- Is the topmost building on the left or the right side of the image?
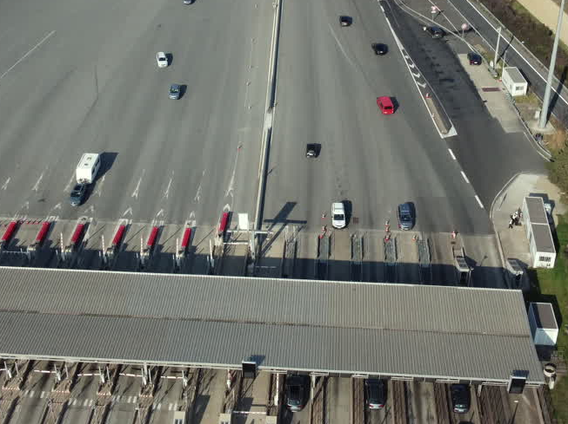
right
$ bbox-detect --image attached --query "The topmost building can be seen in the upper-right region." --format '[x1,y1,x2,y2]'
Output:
[502,64,528,94]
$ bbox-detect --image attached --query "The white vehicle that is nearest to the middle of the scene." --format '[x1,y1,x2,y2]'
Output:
[330,204,346,228]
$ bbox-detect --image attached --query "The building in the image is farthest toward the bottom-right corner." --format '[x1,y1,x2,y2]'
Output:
[526,295,558,342]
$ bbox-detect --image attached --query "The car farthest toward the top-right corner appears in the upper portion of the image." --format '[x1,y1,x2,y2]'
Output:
[467,53,481,66]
